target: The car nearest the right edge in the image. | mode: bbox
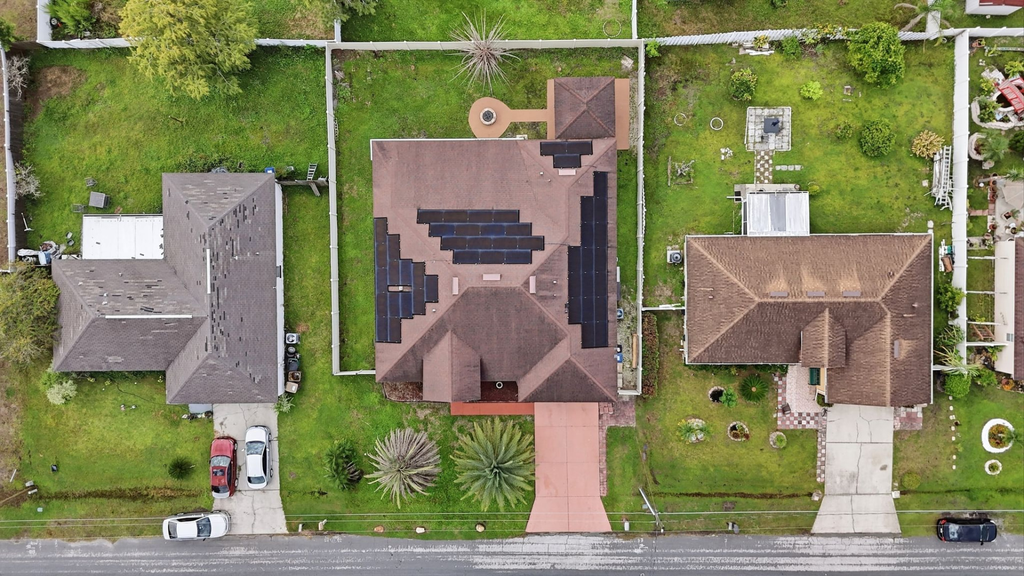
[933,517,995,548]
